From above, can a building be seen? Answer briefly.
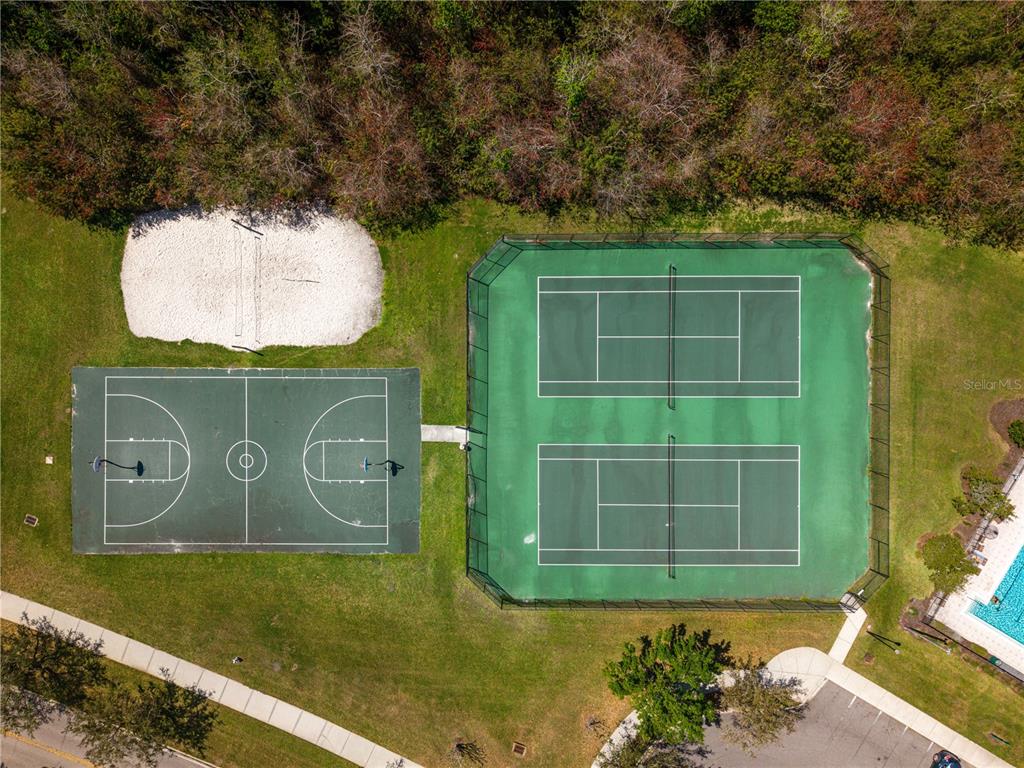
No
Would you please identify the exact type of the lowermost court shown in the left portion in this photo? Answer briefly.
basketball court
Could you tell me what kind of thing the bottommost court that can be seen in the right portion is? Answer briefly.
tennis court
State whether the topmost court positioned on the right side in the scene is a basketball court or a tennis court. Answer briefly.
tennis court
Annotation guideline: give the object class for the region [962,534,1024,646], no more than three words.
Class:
swimming pool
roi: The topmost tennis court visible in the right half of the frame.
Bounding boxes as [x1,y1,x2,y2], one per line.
[538,276,801,398]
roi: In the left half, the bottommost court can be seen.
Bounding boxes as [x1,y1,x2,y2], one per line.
[72,367,420,554]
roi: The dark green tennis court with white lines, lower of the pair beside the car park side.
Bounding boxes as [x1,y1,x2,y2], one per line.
[538,444,801,575]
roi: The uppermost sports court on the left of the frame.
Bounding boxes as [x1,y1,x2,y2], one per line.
[121,200,384,352]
